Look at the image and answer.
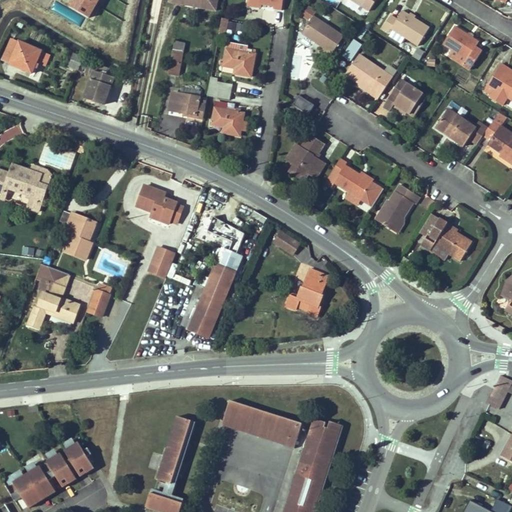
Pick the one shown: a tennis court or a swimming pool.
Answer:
swimming pool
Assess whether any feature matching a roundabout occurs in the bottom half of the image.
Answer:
Yes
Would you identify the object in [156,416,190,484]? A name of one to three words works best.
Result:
building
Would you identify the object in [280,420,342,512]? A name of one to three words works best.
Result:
building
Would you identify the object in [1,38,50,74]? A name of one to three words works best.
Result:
house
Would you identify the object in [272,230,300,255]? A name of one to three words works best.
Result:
shed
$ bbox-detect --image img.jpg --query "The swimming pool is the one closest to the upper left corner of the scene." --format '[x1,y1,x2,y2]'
[50,0,88,28]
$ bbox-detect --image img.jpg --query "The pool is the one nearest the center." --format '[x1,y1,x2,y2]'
[92,248,131,276]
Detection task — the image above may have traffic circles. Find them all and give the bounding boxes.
[336,270,496,442]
